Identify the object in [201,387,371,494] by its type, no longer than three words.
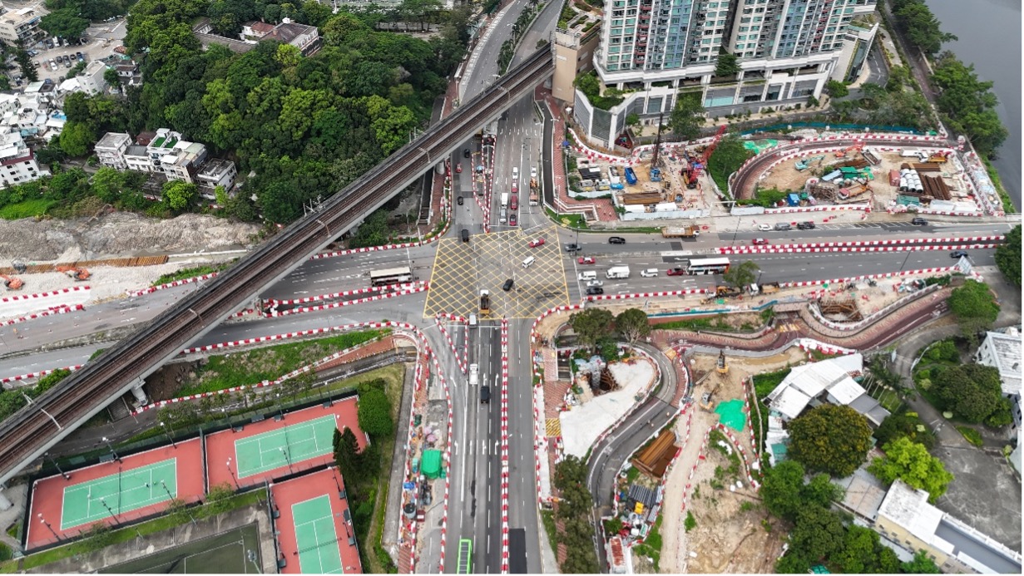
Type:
tennis court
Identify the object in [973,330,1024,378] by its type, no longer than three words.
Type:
building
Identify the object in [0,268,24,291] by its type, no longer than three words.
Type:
work vehicle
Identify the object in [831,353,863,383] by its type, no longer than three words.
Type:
shed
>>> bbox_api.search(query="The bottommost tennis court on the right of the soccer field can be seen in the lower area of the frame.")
[265,458,364,576]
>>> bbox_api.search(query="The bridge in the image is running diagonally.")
[0,44,552,492]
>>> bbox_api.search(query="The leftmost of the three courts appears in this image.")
[16,428,206,551]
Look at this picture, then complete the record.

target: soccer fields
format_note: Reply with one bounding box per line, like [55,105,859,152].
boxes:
[98,523,264,576]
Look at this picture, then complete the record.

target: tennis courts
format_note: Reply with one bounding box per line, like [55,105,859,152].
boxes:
[16,428,206,551]
[201,387,371,494]
[265,458,364,576]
